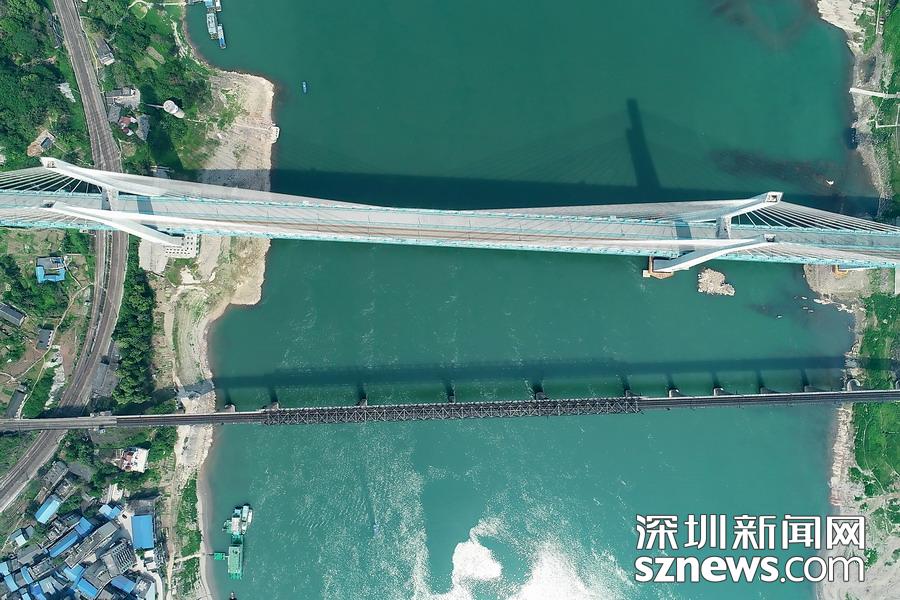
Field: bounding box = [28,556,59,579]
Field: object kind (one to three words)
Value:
house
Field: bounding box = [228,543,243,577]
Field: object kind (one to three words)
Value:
ship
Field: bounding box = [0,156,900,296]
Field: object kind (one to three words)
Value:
bridge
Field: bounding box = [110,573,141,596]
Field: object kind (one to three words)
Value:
shed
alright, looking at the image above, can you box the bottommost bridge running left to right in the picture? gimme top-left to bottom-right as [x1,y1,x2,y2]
[0,368,900,432]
